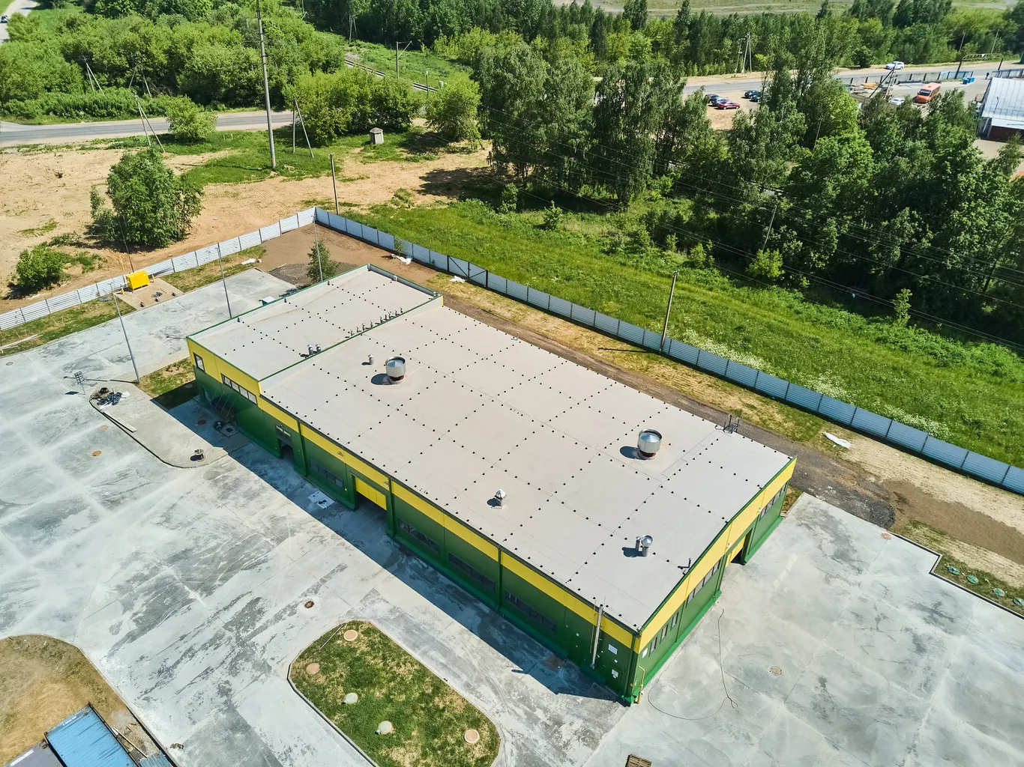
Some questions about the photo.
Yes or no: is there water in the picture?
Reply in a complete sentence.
No, there is no water in the image.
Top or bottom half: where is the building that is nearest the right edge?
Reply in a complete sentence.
It is in the top half that the building that is nearest the right edge appears.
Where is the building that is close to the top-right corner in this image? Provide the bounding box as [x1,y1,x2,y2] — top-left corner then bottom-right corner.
[978,69,1024,142]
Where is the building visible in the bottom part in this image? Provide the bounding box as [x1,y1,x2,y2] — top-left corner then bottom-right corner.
[183,265,800,708]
